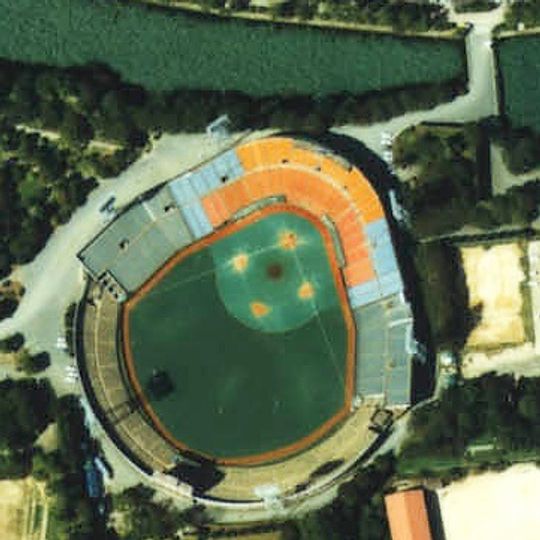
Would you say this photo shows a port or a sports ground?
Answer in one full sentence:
The area seen from above is a sports ground.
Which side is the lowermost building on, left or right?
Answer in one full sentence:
You can find the lowermost building on the right side of the picture.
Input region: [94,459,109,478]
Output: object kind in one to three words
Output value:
vehicle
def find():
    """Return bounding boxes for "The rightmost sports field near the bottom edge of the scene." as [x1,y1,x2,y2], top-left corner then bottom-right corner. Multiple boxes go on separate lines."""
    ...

[433,465,540,540]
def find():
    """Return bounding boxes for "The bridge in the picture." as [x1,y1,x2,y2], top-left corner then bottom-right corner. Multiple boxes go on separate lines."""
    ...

[469,41,499,117]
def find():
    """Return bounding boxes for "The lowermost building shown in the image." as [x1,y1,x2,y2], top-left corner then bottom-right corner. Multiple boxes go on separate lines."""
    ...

[385,489,432,540]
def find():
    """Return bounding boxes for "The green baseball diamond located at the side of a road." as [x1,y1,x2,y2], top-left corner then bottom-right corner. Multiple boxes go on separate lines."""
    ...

[120,204,355,466]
